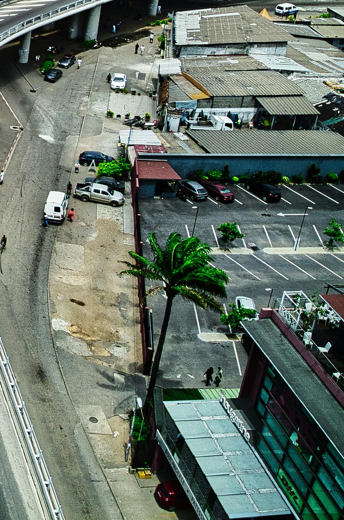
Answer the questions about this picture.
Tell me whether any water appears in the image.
No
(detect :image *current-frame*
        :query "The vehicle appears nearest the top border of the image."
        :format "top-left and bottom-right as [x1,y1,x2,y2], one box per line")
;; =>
[272,2,303,16]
